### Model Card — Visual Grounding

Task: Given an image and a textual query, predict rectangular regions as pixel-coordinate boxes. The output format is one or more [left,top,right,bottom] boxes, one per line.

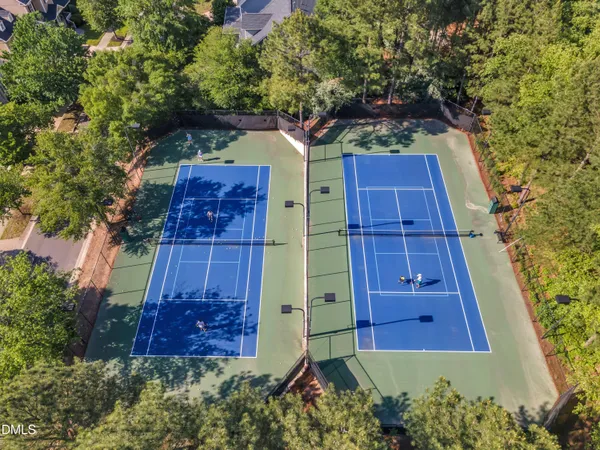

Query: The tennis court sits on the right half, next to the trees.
[308,118,550,426]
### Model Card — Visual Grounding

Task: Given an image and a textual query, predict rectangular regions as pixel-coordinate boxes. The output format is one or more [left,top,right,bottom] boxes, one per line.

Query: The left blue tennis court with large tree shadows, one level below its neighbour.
[77,129,304,431]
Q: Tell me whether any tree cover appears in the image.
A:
Yes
